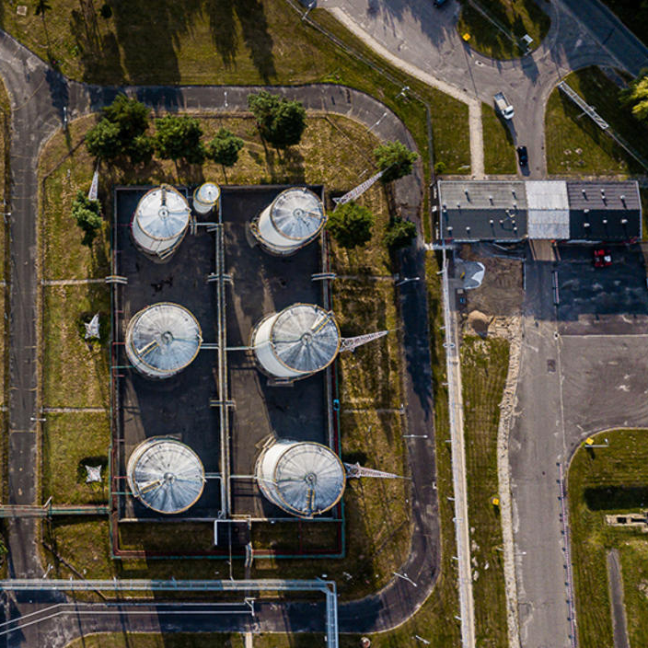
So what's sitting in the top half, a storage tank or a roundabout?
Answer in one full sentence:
Visible in the top half is a storage tank.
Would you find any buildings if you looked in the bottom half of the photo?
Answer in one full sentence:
No, there is no building in the bottom half of the photo.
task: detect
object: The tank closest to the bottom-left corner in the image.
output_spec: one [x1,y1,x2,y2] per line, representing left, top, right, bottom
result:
[125,439,206,513]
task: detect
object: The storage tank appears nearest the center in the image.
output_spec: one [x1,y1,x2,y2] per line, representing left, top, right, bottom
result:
[253,303,343,379]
